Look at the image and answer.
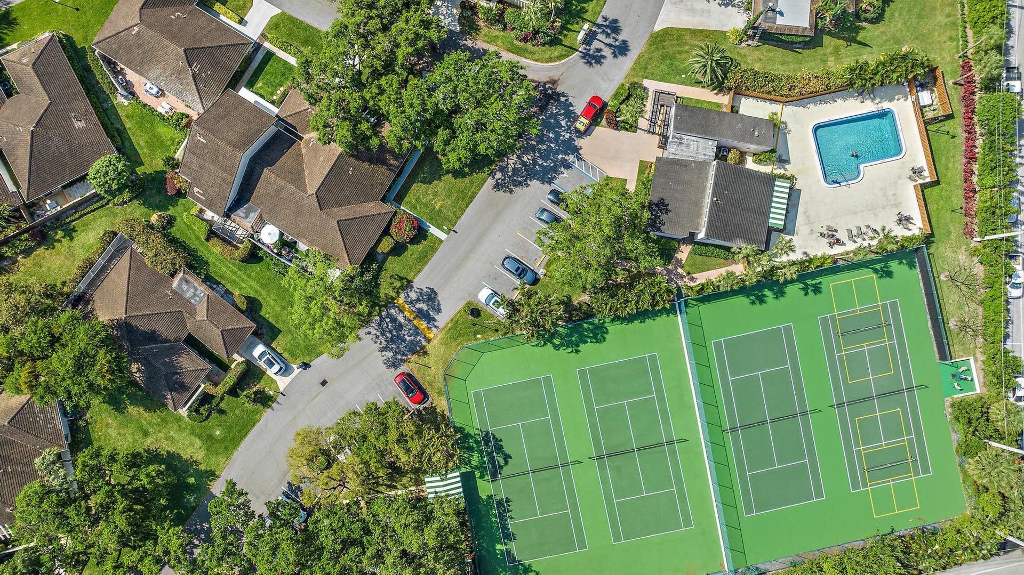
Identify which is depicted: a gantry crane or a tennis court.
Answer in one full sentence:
There is a tennis court in the scene.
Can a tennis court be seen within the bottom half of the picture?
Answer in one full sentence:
Yes, you'll find a tennis court within the bottom half of the picture.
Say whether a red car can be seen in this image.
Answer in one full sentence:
Yes, the picture does show a red car.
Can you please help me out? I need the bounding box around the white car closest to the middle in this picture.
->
[476,288,510,318]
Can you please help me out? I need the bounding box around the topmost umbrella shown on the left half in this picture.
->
[257,224,276,243]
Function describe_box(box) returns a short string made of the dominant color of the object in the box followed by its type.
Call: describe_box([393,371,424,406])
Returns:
red car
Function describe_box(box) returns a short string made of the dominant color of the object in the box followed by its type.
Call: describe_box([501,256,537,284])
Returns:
blue car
